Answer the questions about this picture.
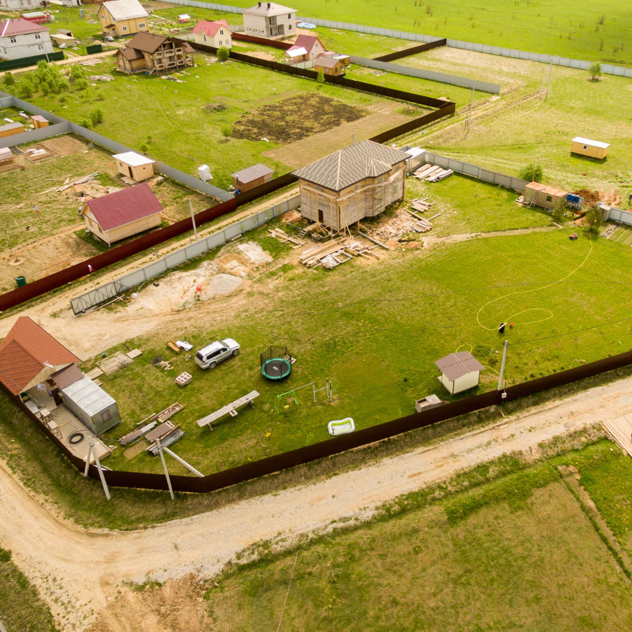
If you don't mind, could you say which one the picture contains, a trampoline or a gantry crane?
trampoline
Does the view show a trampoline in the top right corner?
No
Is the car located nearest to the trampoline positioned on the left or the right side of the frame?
left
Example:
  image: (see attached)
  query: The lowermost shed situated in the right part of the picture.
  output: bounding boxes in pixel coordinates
[433,352,489,396]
